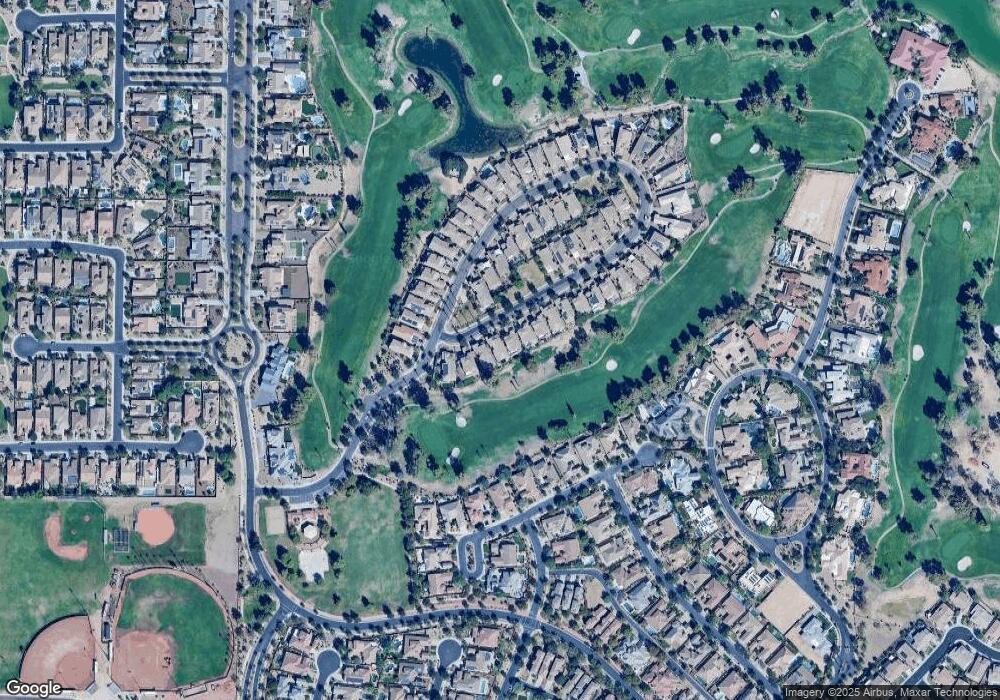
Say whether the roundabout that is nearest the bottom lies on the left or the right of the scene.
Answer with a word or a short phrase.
left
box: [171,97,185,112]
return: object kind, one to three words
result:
swimming pool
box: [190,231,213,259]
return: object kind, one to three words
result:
house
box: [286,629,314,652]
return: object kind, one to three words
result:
house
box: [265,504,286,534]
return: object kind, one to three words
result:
sports court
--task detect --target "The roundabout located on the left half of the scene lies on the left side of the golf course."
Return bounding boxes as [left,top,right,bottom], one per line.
[210,323,265,376]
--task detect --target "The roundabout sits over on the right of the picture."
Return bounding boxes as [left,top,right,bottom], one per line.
[892,77,926,111]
